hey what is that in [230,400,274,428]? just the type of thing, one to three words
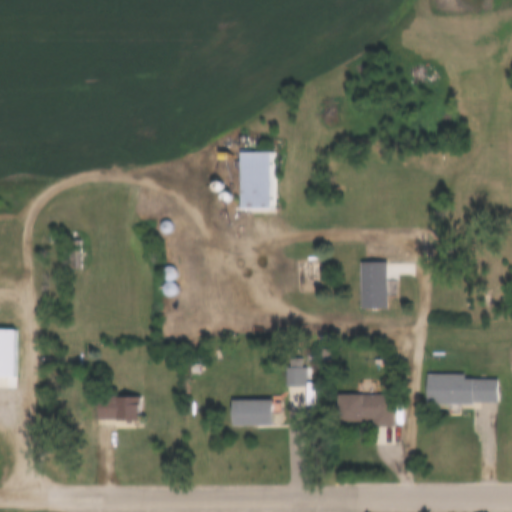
house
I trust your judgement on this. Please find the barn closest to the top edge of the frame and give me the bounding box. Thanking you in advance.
[240,152,279,213]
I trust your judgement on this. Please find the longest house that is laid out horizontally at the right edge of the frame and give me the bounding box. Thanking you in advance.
[426,373,498,406]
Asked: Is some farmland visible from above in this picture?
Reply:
Yes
